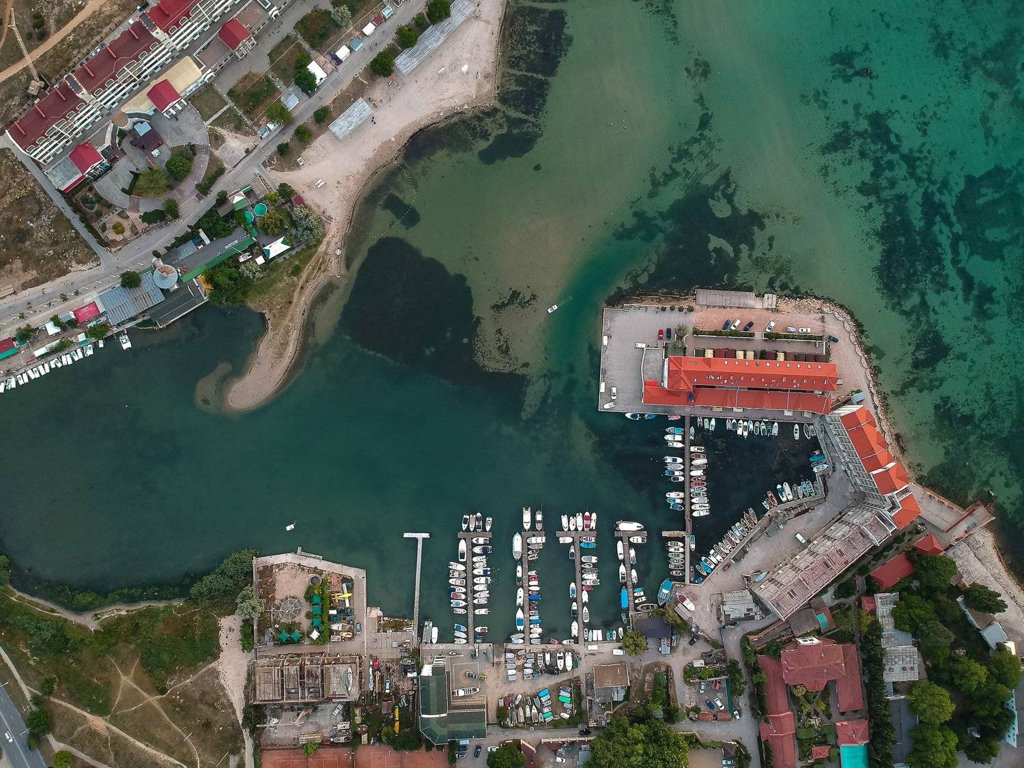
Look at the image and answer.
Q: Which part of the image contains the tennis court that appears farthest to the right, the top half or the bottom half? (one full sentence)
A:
Seen from above, the tennis court that appears farthest to the right lies in the bottom half of the view.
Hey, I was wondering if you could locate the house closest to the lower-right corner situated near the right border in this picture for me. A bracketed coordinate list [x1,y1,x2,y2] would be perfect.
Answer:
[997,682,1020,747]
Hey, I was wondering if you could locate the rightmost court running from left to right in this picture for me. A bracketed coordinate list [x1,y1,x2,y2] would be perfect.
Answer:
[355,746,447,768]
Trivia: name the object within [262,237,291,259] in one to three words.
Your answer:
tent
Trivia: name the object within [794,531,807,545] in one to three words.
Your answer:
vehicle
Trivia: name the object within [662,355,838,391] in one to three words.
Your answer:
building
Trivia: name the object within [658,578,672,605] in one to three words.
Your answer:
ship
